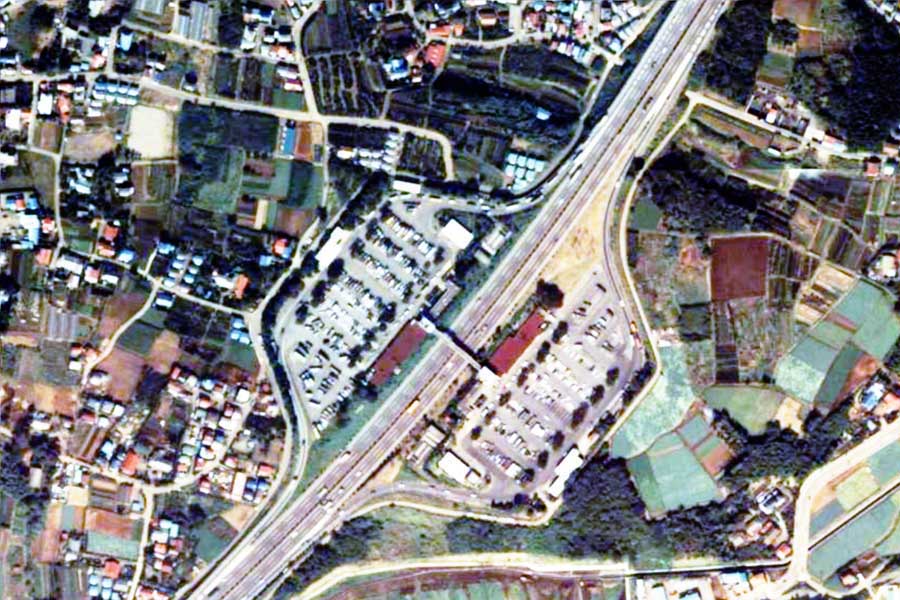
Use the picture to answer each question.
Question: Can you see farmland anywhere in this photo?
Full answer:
Yes, farmland shows up in the scene.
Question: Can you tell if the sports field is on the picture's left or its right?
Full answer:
The sports field appears in the left half of the scene.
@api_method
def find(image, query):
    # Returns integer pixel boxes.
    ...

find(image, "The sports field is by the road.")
[126,104,176,158]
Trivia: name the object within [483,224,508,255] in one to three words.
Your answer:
house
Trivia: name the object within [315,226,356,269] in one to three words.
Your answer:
building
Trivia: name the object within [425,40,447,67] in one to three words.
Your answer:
building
